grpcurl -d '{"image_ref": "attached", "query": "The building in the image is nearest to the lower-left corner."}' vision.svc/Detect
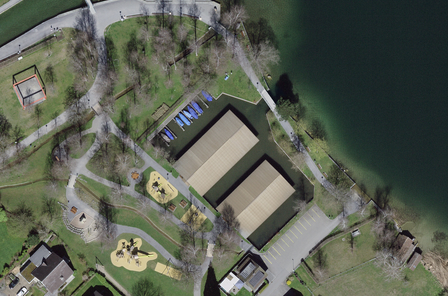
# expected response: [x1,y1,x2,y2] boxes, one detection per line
[21,246,74,294]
